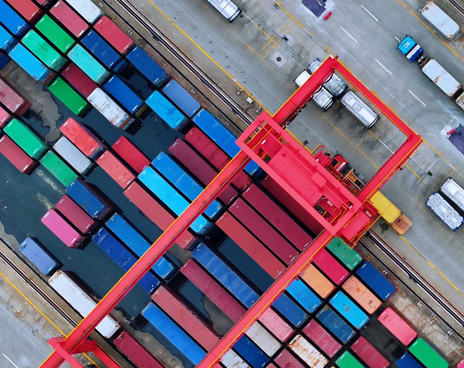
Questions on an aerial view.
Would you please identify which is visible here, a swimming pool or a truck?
truck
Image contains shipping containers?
Yes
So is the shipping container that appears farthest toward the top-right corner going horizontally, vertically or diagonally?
diagonally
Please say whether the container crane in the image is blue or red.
red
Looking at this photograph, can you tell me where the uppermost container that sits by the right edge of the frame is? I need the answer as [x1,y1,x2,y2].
[420,1,460,41]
